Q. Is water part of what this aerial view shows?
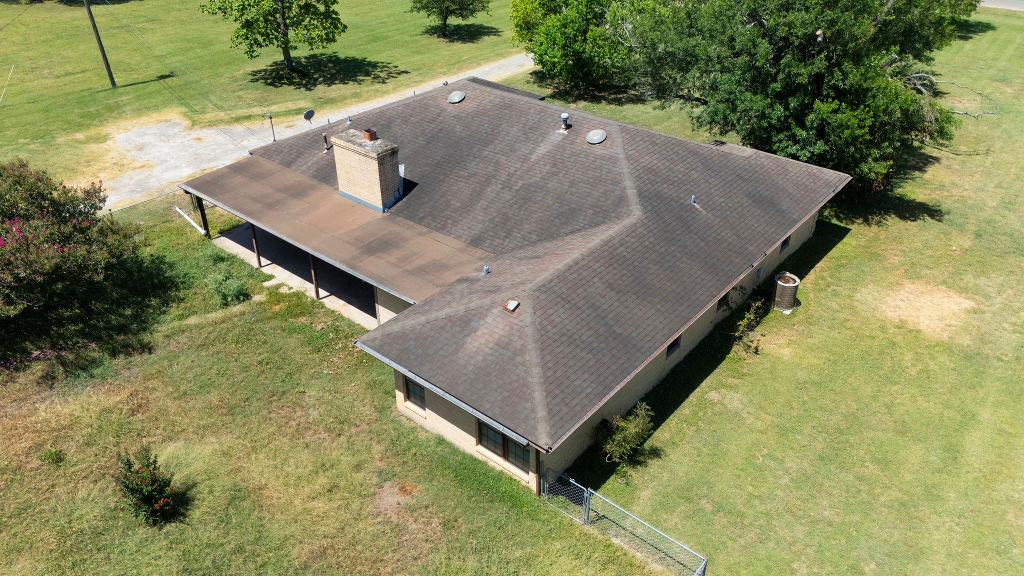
No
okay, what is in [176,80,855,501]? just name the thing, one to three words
house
